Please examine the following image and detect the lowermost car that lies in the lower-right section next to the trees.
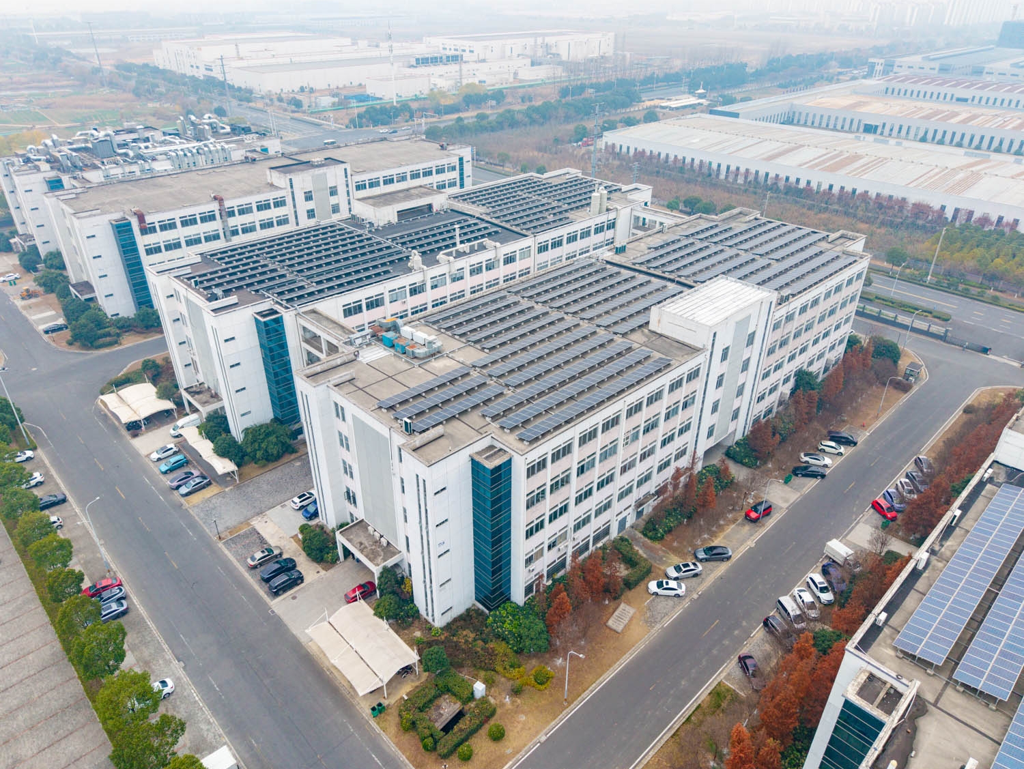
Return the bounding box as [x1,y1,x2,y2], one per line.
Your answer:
[733,650,769,689]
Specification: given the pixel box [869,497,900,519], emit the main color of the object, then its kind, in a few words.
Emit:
red car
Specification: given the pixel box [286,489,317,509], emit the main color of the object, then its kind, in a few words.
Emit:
white car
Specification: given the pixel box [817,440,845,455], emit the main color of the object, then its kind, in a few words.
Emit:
white car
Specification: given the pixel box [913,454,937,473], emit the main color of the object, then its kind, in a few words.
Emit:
gray car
